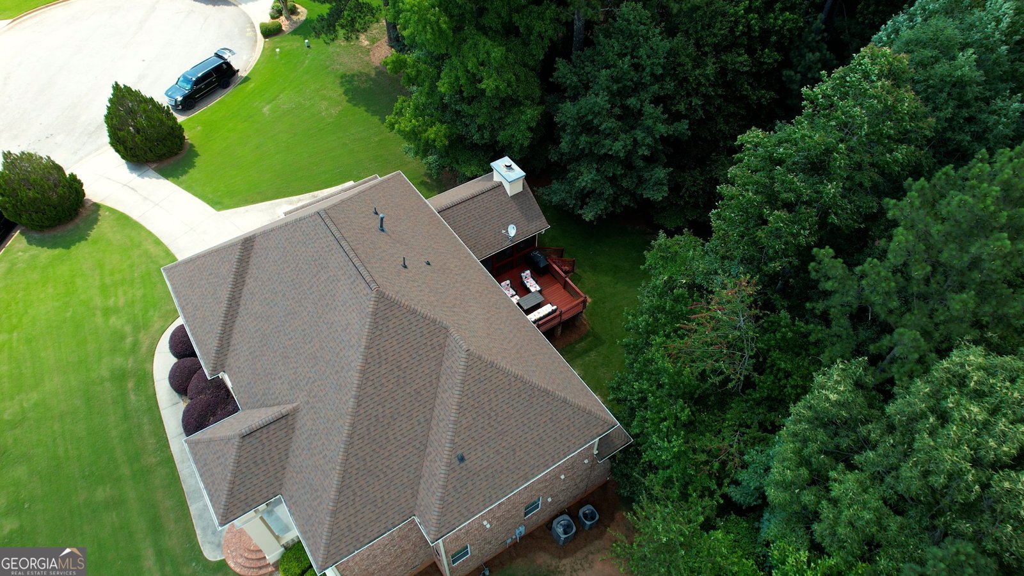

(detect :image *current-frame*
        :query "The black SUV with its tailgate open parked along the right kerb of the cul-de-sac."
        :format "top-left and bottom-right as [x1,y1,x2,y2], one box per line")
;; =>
[161,48,239,110]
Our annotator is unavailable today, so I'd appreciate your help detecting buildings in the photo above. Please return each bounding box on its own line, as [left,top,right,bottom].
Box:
[161,157,633,576]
